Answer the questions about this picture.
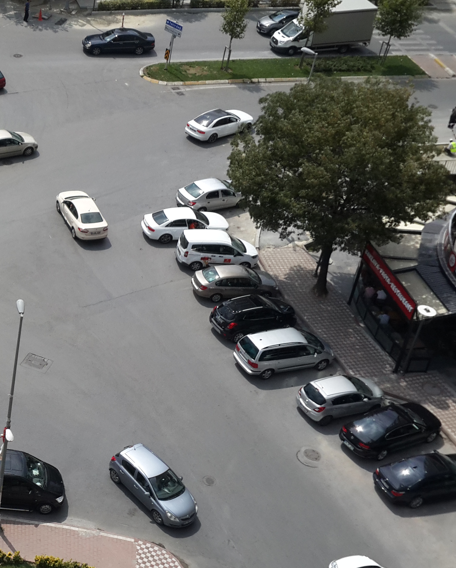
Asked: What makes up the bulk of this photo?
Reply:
paved ground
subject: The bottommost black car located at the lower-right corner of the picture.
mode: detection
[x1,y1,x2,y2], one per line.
[370,446,456,510]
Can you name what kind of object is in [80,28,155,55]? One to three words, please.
car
